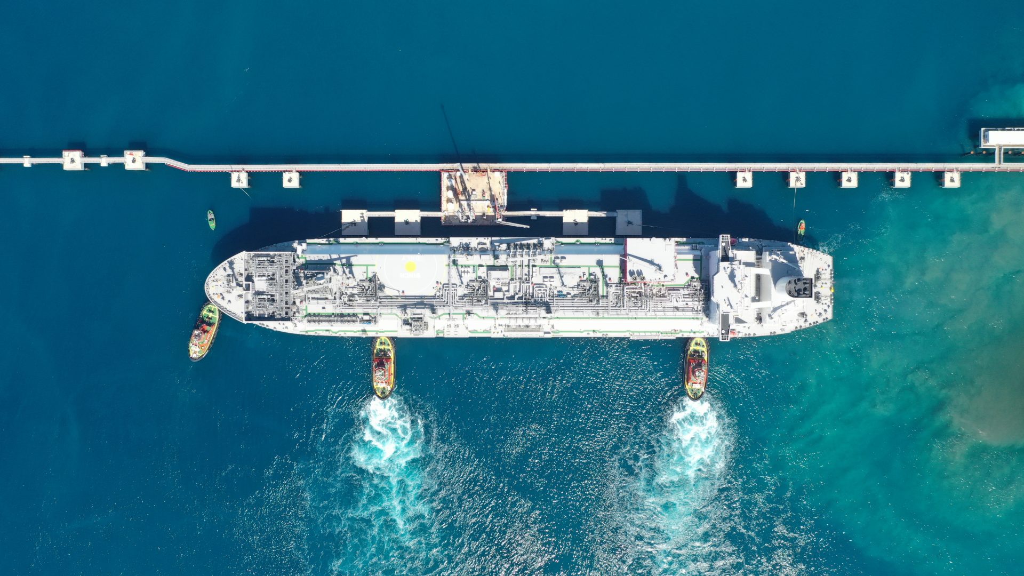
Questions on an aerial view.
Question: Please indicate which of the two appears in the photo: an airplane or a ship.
ship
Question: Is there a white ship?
Yes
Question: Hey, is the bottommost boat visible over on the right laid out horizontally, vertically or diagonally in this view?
vertically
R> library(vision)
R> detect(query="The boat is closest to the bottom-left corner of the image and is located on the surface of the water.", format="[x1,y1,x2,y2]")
[190,302,221,361]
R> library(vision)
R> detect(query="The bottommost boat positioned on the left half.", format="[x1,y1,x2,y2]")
[371,337,396,399]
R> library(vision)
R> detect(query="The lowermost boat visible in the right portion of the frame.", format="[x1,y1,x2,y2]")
[684,337,709,400]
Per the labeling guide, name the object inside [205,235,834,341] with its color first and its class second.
white ship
